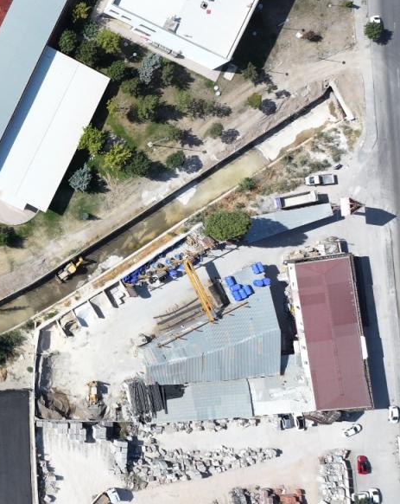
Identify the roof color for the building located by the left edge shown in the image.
white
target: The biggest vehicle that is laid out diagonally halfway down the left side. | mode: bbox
[52,261,84,284]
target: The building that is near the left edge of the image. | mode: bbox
[0,46,110,226]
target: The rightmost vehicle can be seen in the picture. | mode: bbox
[387,405,399,424]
